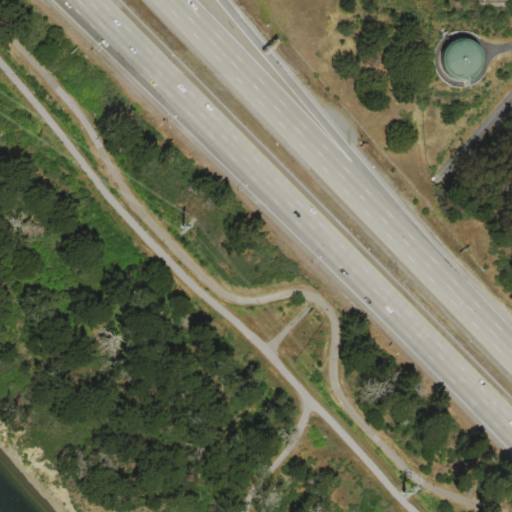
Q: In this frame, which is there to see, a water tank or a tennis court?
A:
water tank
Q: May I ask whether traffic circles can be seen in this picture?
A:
No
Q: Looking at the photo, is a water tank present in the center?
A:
No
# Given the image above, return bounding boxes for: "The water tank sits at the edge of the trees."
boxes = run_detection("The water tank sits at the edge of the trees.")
[442,39,484,80]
